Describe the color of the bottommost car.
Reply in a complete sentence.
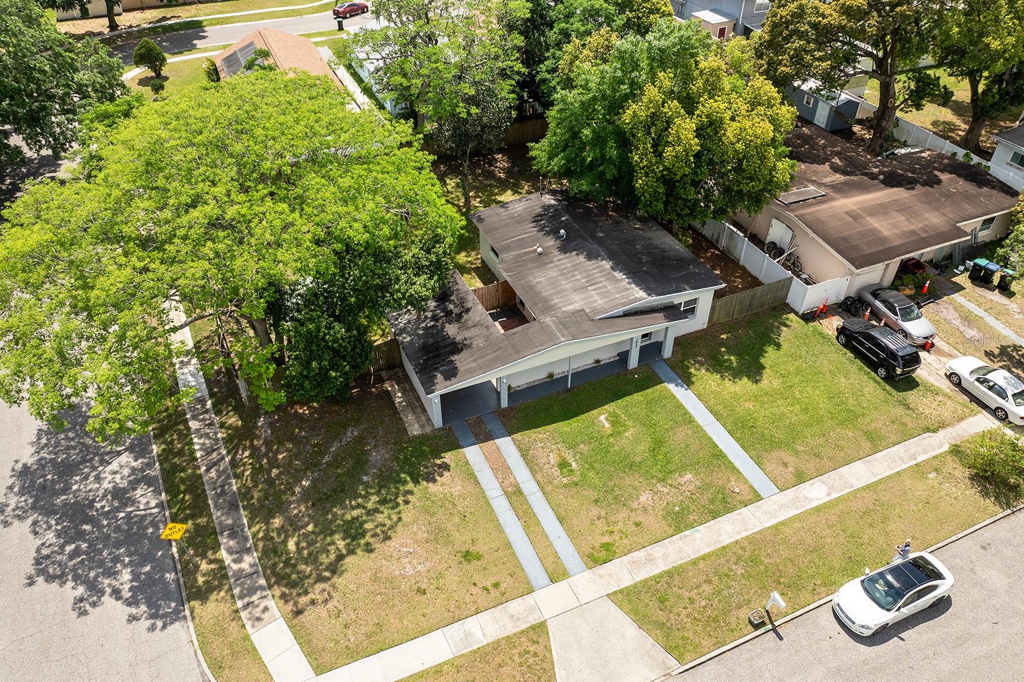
The color of the bottommost car is white.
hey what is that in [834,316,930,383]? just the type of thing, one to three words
car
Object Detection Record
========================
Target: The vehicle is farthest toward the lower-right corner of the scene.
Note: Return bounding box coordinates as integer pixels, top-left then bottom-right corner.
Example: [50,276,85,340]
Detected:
[831,553,963,642]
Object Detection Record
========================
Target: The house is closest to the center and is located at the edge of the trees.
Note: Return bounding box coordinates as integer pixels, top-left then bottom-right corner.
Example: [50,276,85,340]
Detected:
[375,174,728,429]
